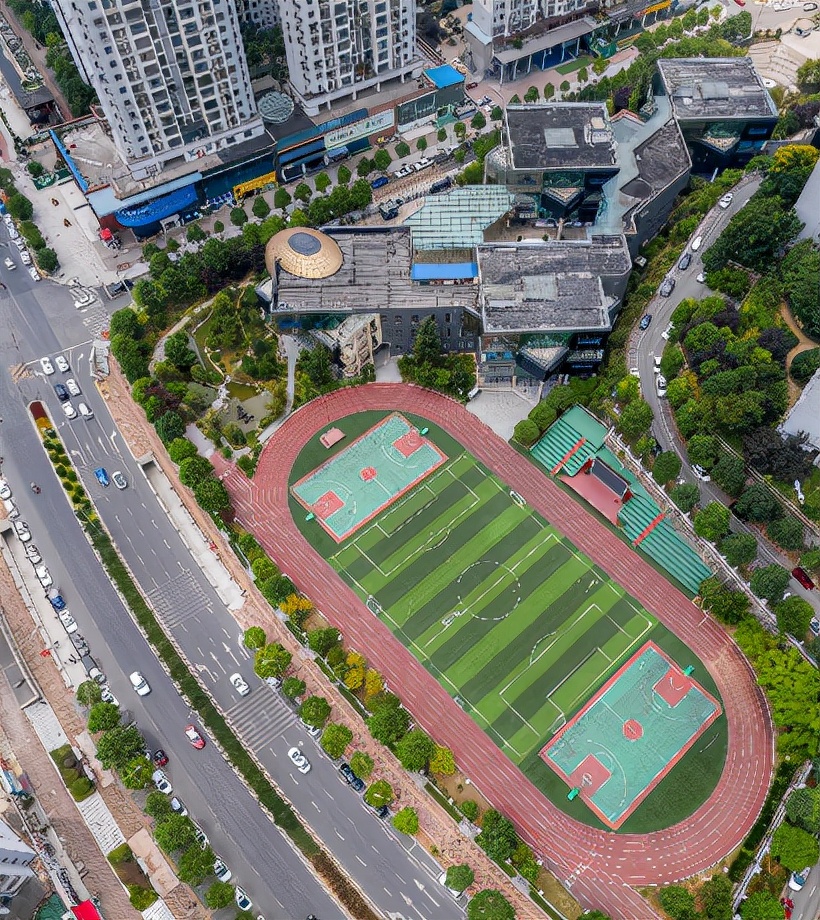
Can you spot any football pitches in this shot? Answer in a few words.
Yes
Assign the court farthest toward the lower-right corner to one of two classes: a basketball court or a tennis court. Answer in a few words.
basketball court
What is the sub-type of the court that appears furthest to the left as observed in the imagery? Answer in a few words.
basketball court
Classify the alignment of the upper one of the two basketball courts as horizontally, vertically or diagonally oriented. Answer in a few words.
diagonally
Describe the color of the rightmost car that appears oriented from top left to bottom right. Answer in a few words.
red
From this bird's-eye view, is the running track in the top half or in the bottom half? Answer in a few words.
bottom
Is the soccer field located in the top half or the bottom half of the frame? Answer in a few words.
bottom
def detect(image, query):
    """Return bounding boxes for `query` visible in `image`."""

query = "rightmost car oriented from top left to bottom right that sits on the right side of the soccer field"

[788,565,816,591]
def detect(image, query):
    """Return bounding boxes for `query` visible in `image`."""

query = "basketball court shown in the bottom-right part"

[540,641,725,829]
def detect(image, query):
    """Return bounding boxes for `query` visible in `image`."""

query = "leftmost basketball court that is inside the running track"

[290,413,448,543]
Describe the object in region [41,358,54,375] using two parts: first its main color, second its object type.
white vehicle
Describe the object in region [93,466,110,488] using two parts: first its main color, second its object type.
blue car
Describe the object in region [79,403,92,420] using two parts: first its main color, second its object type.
white vehicle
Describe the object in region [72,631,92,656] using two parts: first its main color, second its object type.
gray car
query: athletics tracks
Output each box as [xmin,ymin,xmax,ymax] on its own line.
[211,378,779,920]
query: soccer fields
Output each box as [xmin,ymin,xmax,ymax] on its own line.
[327,451,659,762]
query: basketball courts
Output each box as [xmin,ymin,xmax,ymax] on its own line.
[540,641,725,829]
[290,413,448,543]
